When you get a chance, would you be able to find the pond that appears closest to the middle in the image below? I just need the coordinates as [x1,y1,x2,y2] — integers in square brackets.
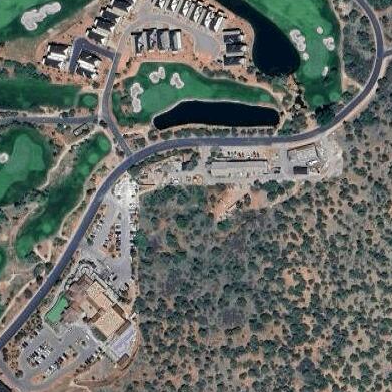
[153,103,279,128]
